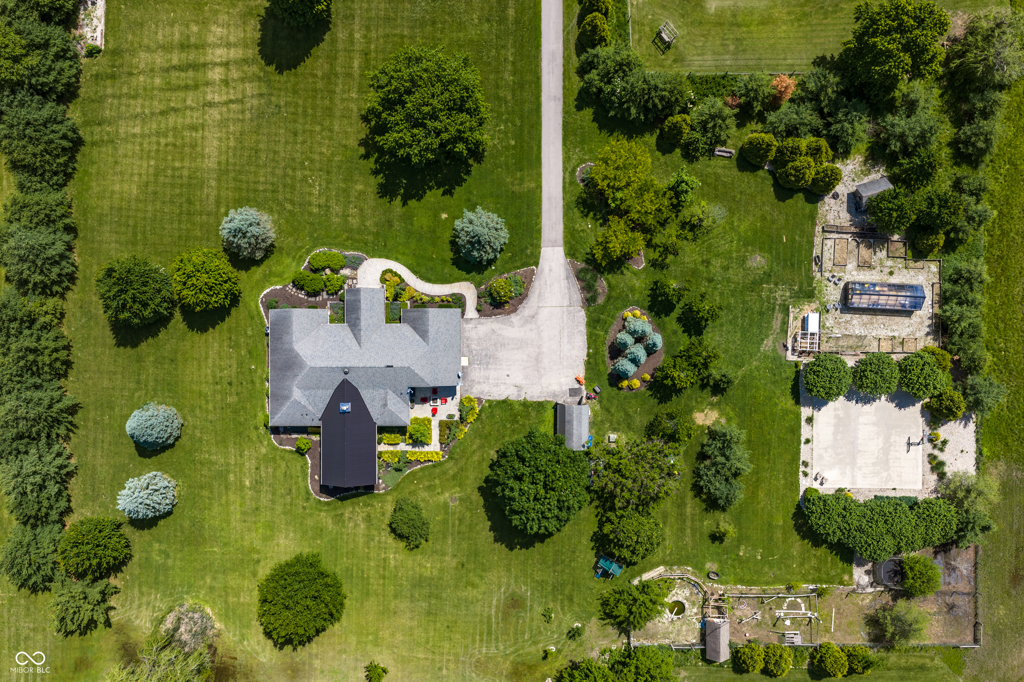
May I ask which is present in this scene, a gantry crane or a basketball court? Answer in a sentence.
This aerial view contains a basketball court.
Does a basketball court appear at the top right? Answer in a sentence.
No, no basketball court is visible at the top right.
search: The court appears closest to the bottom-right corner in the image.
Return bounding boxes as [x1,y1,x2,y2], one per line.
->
[812,379,922,489]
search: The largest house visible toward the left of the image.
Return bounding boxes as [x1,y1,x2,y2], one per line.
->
[269,288,461,488]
